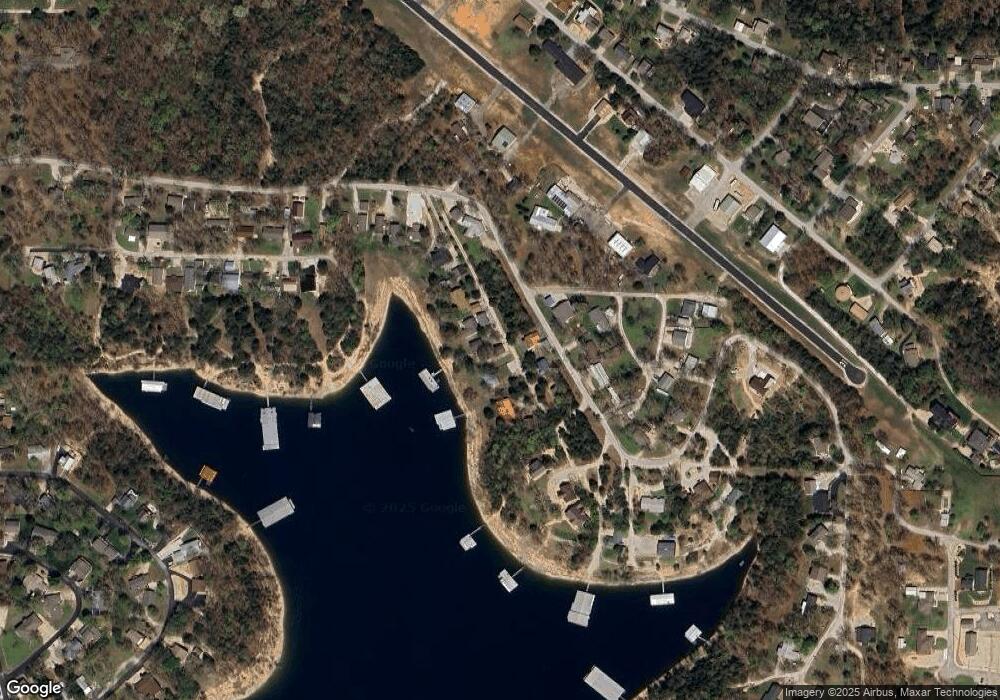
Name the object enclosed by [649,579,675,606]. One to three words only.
pier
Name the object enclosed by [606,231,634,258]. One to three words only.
hangar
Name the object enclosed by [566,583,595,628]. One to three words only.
pier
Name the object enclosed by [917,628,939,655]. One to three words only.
house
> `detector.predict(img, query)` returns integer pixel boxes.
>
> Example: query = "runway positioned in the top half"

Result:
[401,0,864,383]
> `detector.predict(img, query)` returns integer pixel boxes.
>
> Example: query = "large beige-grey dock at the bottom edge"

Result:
[583,664,626,700]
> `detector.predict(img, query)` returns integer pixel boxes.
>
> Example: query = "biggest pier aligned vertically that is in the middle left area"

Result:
[261,398,279,449]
